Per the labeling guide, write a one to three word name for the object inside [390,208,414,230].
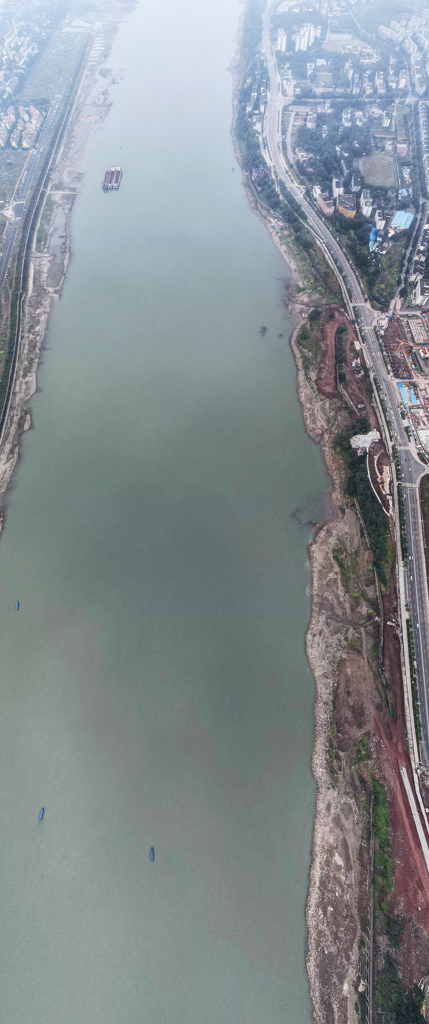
building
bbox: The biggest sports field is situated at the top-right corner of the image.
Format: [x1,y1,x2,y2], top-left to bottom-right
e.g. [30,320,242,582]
[360,155,397,185]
